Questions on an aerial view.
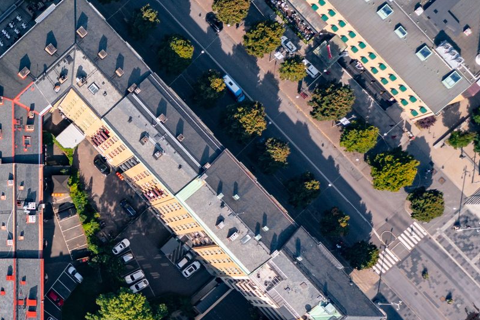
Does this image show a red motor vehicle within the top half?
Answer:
No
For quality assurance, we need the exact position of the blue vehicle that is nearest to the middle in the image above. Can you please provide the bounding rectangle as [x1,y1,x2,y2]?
[222,70,247,102]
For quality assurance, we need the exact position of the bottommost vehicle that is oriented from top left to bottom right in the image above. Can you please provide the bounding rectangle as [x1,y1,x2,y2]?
[45,290,64,308]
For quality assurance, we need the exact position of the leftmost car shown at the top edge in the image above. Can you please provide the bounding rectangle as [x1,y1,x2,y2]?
[204,10,223,32]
